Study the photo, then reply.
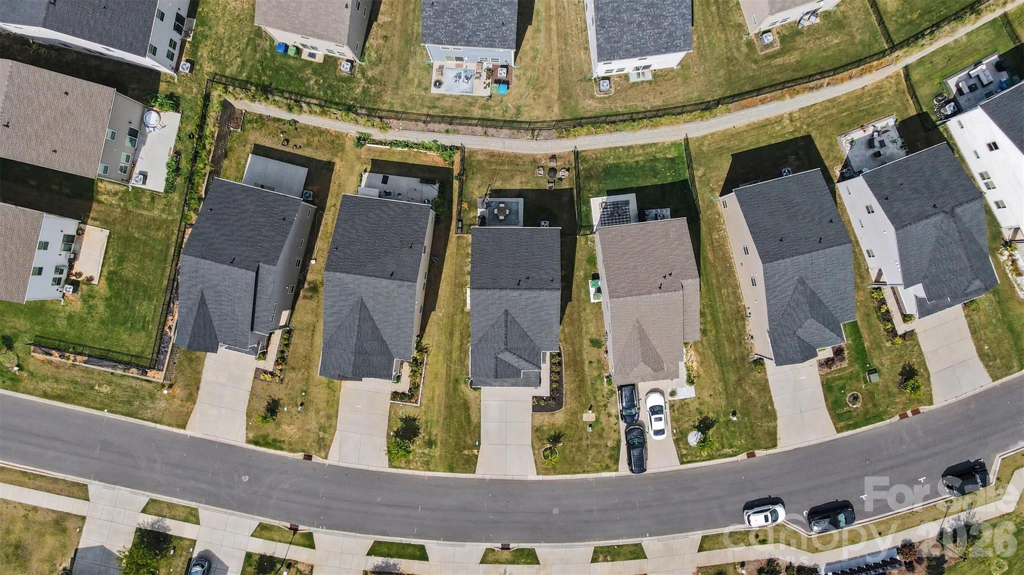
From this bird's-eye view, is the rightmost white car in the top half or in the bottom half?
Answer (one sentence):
The rightmost white car sits in the bottom half of the picture.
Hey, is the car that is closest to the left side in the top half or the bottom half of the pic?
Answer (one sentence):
You can find the car that is closest to the left side in the bottom half.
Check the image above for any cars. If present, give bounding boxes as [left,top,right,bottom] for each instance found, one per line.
[739,501,785,527]
[643,388,667,440]
[936,466,989,499]
[189,550,216,575]
[624,423,650,473]
[616,381,641,428]
[804,506,854,532]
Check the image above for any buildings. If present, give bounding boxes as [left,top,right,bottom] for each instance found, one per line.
[836,141,1001,320]
[0,60,146,185]
[469,227,563,384]
[584,0,693,79]
[255,0,372,63]
[0,204,80,303]
[734,0,829,35]
[318,192,435,383]
[421,0,518,67]
[719,167,857,366]
[0,0,190,73]
[172,176,317,361]
[594,216,700,383]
